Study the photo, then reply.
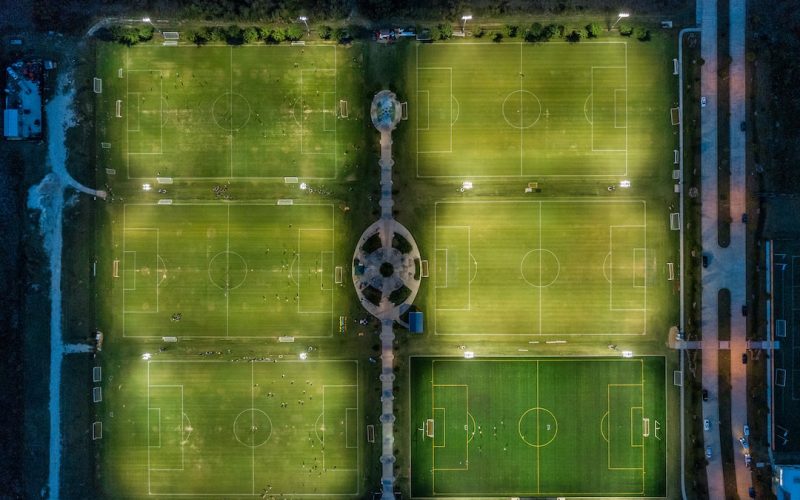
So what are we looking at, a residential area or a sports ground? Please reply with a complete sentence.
It's a sports ground.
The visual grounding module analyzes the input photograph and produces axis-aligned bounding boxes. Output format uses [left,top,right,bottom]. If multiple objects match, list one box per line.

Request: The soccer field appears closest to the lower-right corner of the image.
[774,238,800,459]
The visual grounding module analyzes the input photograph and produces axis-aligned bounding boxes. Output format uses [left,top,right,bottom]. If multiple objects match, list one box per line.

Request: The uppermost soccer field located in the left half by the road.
[127,45,336,179]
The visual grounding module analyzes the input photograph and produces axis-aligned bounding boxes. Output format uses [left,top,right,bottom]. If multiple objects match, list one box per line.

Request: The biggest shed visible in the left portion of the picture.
[5,109,23,138]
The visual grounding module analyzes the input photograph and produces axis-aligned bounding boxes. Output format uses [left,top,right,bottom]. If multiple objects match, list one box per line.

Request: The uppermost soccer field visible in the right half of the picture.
[416,42,627,180]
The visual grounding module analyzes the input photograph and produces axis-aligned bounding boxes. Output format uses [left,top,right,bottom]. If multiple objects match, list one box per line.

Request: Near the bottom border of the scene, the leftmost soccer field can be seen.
[148,361,358,495]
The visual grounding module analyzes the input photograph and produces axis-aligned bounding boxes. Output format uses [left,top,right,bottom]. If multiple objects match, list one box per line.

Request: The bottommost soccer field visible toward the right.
[410,356,667,498]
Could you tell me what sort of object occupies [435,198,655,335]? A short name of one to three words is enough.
soccer field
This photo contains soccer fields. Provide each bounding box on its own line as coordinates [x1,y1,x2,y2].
[123,204,334,337]
[410,356,667,498]
[435,198,655,335]
[774,238,800,459]
[148,361,358,495]
[127,45,336,179]
[416,42,627,180]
